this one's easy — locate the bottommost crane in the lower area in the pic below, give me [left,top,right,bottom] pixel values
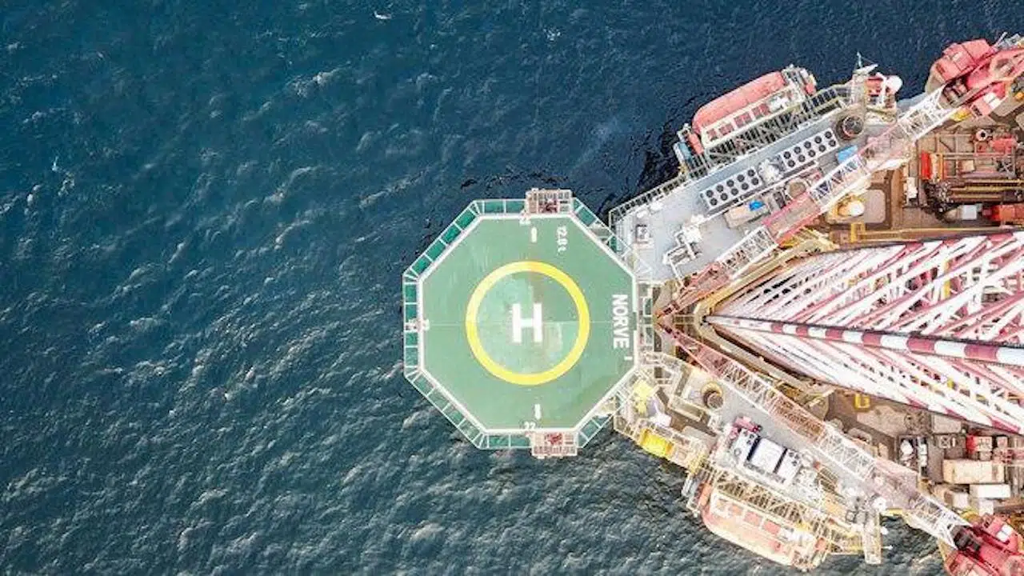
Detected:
[658,317,1024,576]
